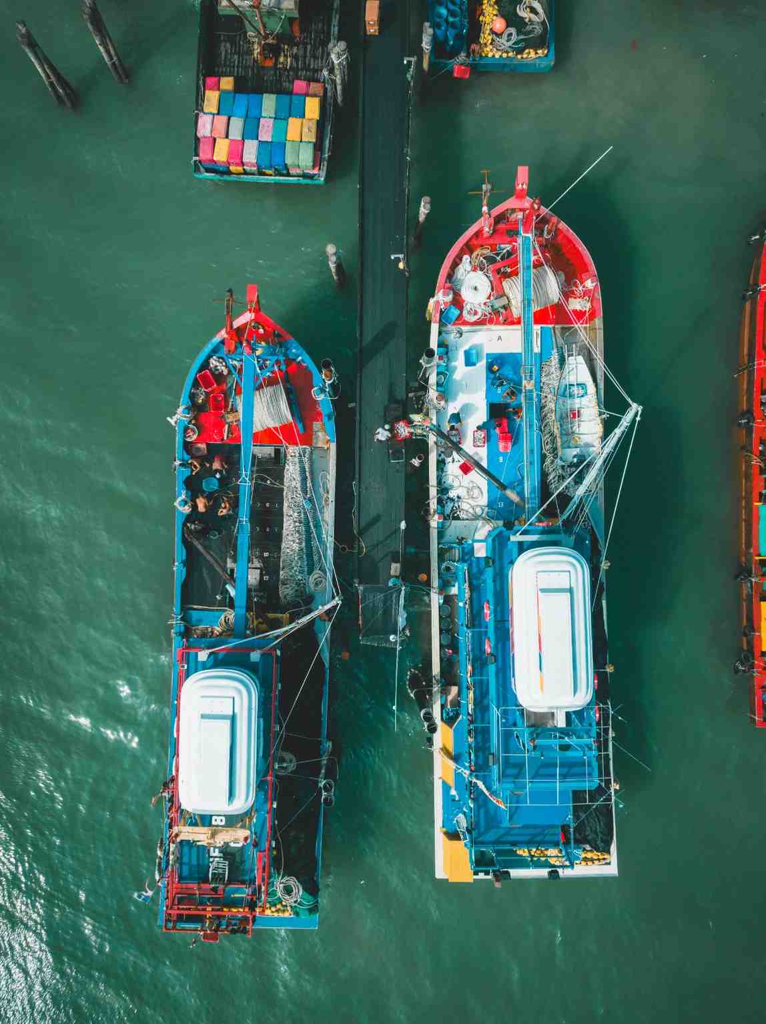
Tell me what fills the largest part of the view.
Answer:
water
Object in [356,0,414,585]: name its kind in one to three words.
pier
